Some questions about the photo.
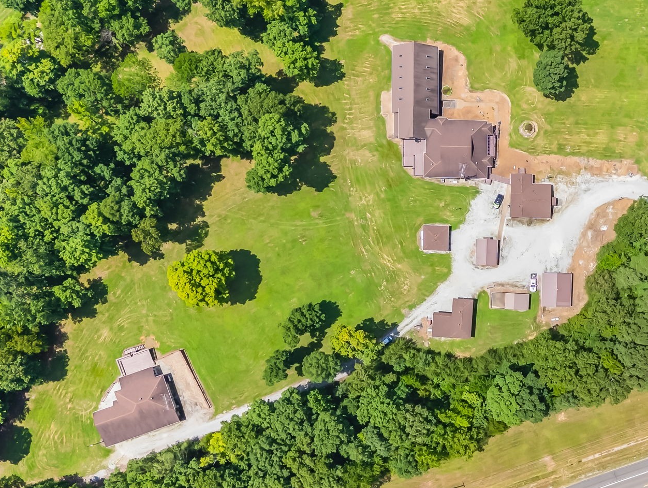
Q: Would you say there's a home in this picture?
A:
Yes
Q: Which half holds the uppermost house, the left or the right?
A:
right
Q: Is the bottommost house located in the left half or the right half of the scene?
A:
left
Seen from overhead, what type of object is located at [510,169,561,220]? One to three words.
house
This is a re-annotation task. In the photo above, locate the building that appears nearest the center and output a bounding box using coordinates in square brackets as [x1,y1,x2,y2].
[422,225,449,251]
